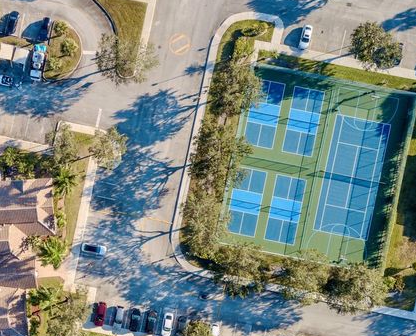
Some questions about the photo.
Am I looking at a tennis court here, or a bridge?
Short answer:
tennis court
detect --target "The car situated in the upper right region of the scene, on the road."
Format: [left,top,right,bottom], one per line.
[299,26,312,51]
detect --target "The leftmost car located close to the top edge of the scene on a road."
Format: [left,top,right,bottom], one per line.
[7,12,21,37]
